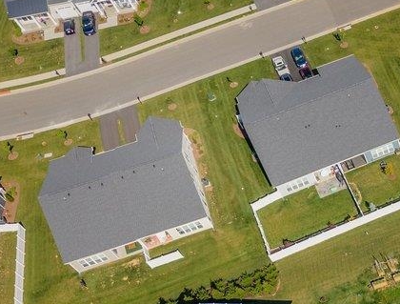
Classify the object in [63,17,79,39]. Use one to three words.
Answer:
car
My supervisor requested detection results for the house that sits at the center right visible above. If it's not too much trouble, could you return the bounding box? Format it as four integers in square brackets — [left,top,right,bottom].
[233,55,400,197]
